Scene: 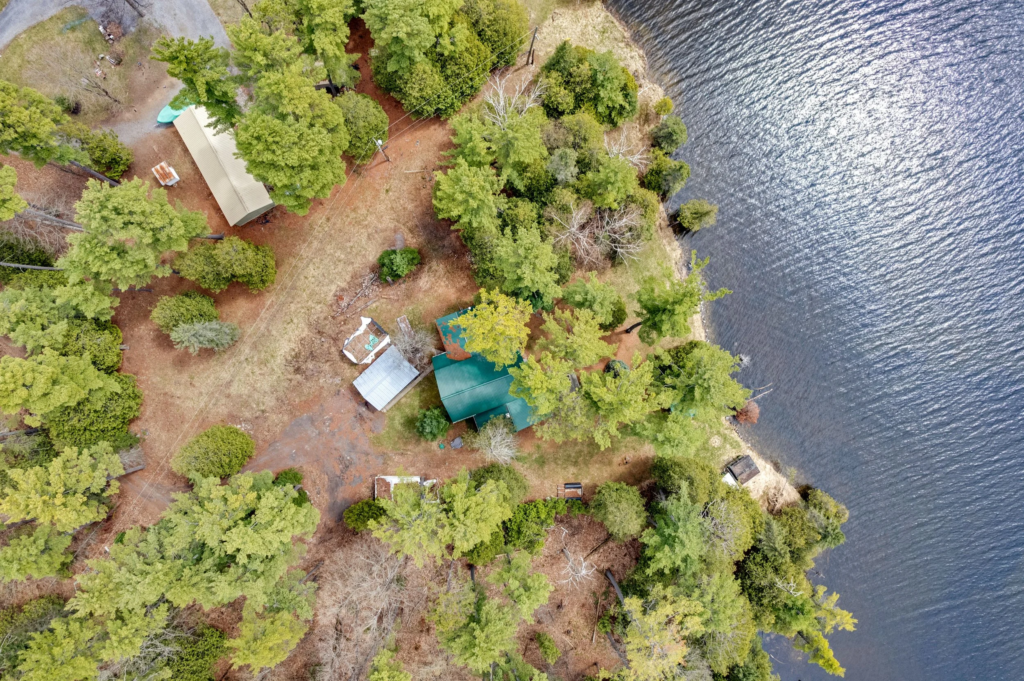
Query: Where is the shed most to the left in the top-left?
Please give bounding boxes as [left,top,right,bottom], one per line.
[151,160,181,187]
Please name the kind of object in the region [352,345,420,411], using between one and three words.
shed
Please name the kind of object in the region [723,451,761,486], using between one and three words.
shed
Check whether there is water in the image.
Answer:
Yes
